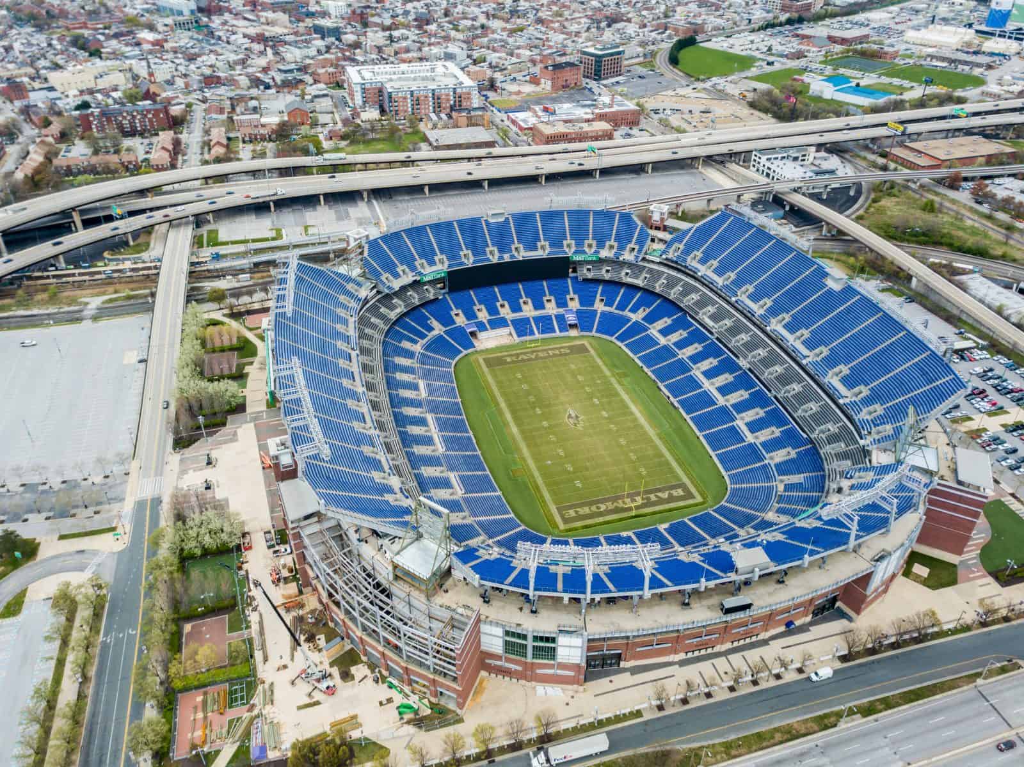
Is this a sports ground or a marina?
sports ground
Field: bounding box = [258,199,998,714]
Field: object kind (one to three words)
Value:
stadium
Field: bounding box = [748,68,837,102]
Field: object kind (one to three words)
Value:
sports field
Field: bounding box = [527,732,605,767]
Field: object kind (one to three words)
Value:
truck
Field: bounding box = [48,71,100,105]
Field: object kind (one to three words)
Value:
building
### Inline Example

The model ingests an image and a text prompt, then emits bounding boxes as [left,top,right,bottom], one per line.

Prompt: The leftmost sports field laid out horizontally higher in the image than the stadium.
[679,47,761,78]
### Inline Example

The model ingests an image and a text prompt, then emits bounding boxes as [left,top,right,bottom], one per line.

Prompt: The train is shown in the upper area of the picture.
[937,255,998,273]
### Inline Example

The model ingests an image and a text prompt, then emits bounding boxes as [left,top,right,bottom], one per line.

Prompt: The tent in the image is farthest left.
[903,28,975,50]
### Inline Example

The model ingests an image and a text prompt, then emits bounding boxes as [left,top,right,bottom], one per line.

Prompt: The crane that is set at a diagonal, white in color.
[252,579,340,701]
